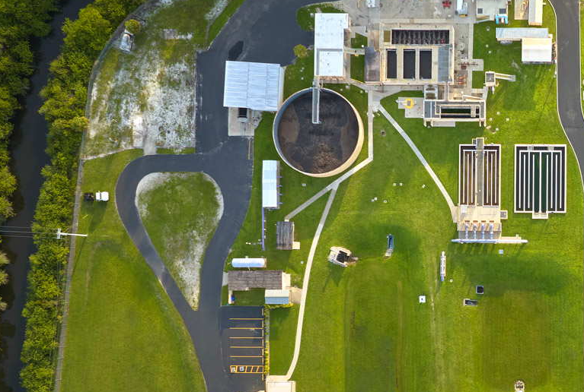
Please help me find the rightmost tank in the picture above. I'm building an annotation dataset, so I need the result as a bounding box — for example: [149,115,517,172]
[515,145,566,220]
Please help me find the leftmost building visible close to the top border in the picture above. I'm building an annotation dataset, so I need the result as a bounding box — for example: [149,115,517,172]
[314,12,353,84]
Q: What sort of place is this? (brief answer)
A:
industrial area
